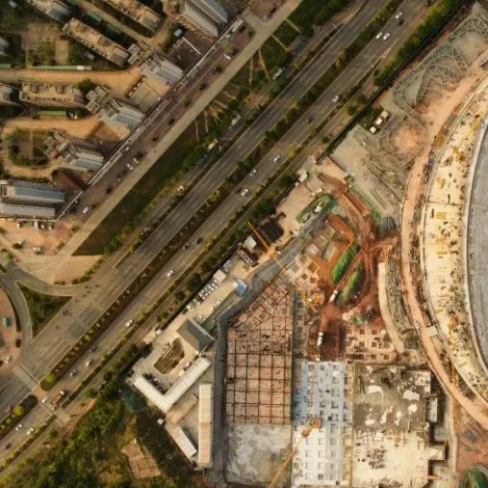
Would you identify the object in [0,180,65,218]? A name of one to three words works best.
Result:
building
